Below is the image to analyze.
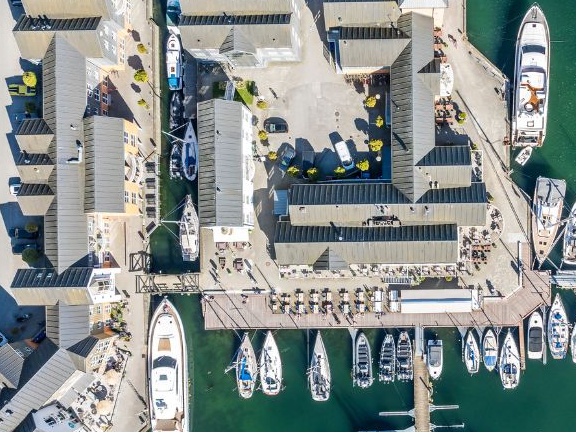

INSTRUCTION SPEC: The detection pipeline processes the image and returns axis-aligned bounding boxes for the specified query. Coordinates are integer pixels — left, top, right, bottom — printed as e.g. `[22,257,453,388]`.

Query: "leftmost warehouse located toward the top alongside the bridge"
[15,28,147,285]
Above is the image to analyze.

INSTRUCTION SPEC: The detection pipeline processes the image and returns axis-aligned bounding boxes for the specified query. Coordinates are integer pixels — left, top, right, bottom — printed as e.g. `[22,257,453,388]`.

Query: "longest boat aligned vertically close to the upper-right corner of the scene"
[513,1,552,151]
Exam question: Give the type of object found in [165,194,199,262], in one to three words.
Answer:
boat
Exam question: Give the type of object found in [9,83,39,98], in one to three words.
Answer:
car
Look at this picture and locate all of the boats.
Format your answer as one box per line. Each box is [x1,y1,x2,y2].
[482,330,498,370]
[147,298,191,432]
[378,335,396,382]
[498,330,522,389]
[169,145,184,180]
[563,204,576,270]
[255,329,283,396]
[513,1,552,151]
[172,120,197,182]
[166,0,183,30]
[514,146,534,164]
[227,329,258,399]
[531,176,567,269]
[546,288,576,360]
[165,194,199,262]
[354,333,373,388]
[525,315,544,359]
[463,330,480,373]
[166,32,183,92]
[426,339,444,380]
[306,330,331,400]
[396,332,413,381]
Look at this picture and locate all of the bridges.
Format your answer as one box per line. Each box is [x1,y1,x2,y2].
[131,274,203,294]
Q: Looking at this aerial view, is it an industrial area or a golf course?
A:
industrial area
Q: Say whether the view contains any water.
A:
Yes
